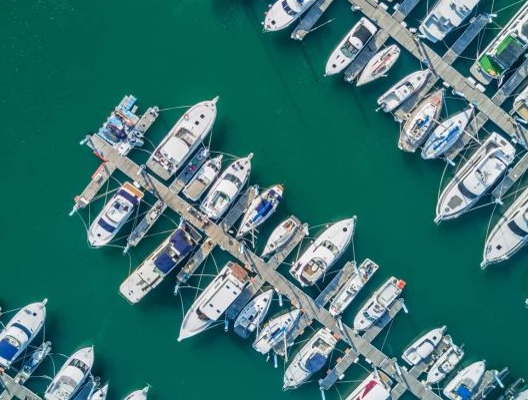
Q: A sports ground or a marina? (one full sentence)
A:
It's a marina.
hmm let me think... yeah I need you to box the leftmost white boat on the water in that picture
[0,299,46,366]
